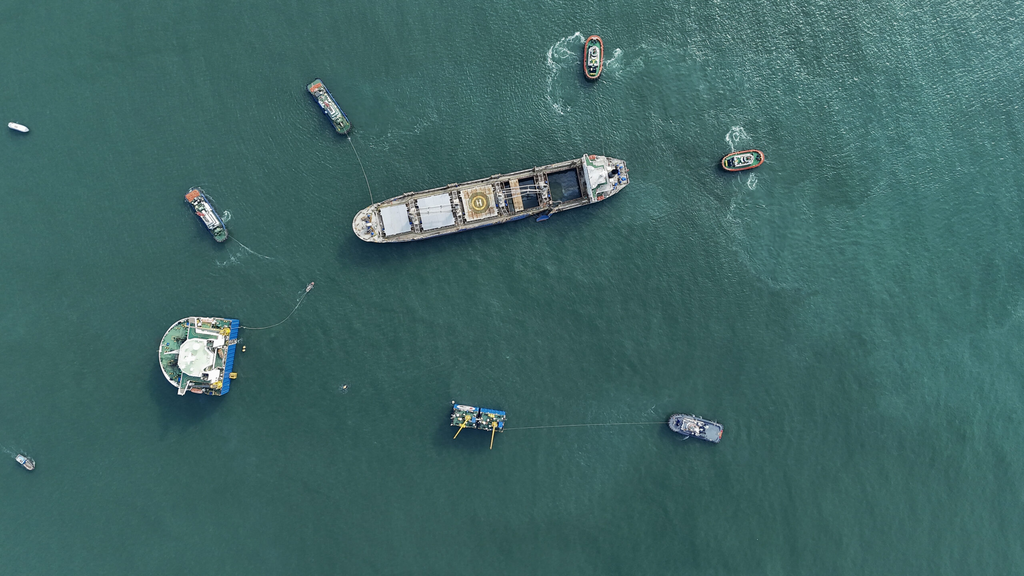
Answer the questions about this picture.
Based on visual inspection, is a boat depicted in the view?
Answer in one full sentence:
Yes, there's a boat down there.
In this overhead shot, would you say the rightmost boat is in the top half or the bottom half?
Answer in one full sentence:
The rightmost boat is in the top half of the image.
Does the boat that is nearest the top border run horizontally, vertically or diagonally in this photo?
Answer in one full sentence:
From this overhead view, the boat that is nearest the top border appears to run vertically.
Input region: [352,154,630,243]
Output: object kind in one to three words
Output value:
ship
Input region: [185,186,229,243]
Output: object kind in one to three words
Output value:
boat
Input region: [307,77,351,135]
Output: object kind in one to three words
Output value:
boat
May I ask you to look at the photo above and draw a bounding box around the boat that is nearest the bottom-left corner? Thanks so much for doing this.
[14,454,35,469]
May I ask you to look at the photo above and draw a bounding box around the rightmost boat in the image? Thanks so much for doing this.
[720,149,765,173]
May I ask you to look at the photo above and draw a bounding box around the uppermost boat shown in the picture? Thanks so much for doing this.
[583,35,604,81]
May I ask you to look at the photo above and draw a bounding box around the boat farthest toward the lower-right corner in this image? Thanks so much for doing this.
[668,413,723,443]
